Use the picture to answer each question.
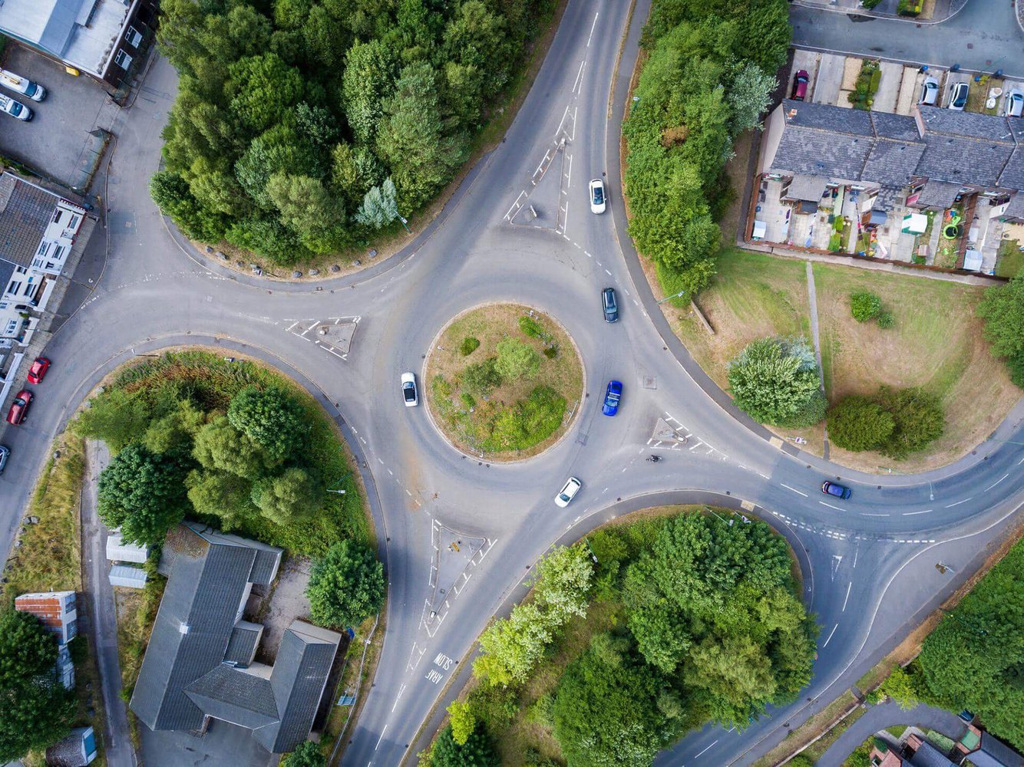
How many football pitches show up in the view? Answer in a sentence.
I count no football pitches.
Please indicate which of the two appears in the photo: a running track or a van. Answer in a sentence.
There is a van in the scene.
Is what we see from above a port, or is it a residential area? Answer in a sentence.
The picture captures a residential area.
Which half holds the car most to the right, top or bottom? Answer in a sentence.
You can find the car most to the right in the top half.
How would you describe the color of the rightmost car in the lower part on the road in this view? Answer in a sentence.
The rightmost car in the lower part on the road is blue.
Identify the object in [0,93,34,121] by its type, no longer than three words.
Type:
van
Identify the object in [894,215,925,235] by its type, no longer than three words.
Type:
gazebo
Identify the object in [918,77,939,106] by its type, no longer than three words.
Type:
car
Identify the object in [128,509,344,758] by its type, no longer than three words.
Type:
building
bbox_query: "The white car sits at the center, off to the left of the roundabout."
[400,372,418,407]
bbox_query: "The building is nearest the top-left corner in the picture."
[0,0,162,93]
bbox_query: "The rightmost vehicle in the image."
[1003,87,1024,119]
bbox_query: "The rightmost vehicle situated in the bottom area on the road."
[818,479,850,500]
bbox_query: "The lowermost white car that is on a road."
[554,475,582,509]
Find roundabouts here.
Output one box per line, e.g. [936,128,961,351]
[422,301,587,466]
